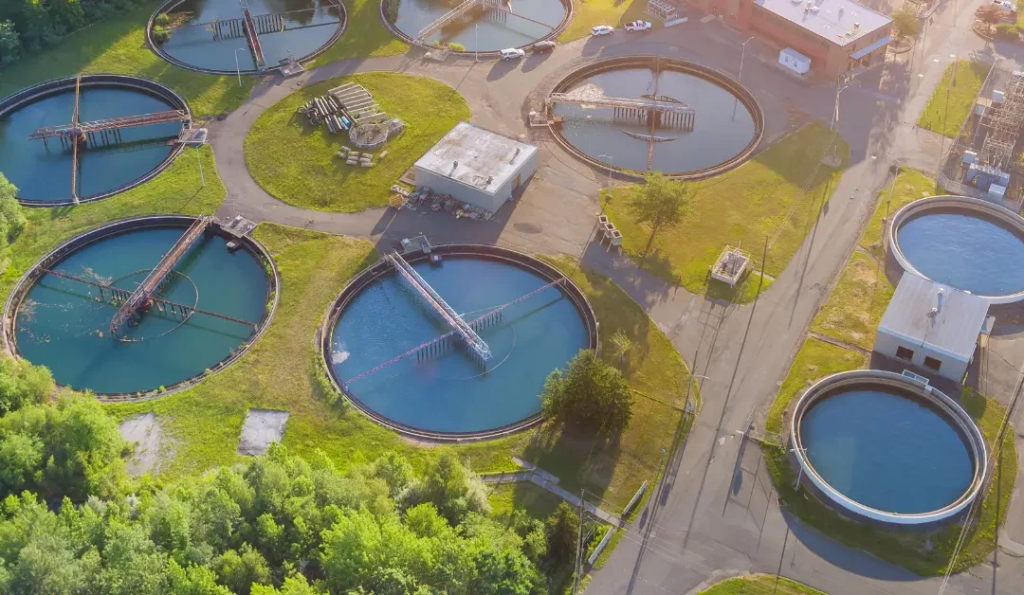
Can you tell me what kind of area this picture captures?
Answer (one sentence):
The picture captures an industrial area.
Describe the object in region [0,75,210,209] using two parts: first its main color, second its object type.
blue storage tank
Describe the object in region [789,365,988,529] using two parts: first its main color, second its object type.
blue storage tank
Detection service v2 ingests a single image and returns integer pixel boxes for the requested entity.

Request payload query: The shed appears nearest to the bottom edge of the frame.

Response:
[873,272,995,379]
